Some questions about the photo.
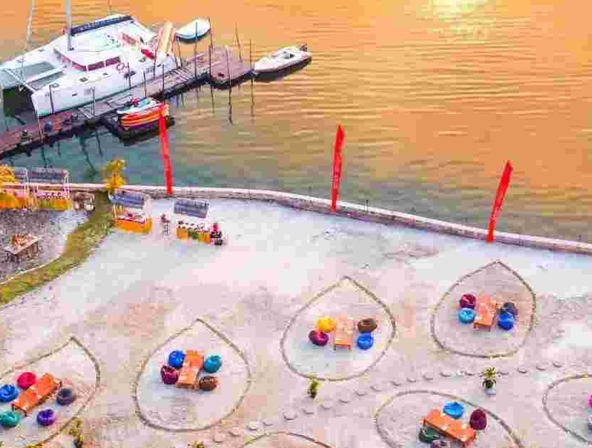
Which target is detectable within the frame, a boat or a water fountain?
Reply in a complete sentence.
Visible in the photo is a boat.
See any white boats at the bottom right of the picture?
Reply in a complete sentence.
No, the scene shows no white boat at the bottom right of the picture.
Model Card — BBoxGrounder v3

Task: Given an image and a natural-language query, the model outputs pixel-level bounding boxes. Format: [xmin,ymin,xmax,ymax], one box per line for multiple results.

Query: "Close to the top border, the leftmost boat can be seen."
[0,0,181,119]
